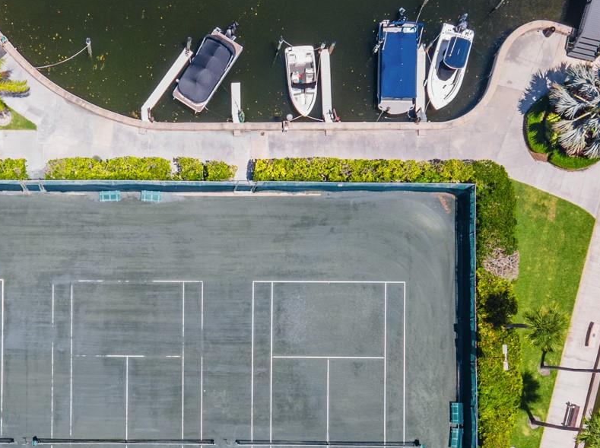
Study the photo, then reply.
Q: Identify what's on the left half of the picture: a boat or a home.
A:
boat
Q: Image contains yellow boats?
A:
No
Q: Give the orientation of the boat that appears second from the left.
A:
up and down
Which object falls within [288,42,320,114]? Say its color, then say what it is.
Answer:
white boat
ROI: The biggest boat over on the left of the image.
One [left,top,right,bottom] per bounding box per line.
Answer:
[171,25,244,114]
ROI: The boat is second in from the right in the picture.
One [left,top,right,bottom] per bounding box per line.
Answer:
[378,5,425,115]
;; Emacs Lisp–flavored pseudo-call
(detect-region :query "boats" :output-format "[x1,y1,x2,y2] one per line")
[288,42,320,114]
[171,25,244,114]
[378,5,425,115]
[430,13,478,108]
